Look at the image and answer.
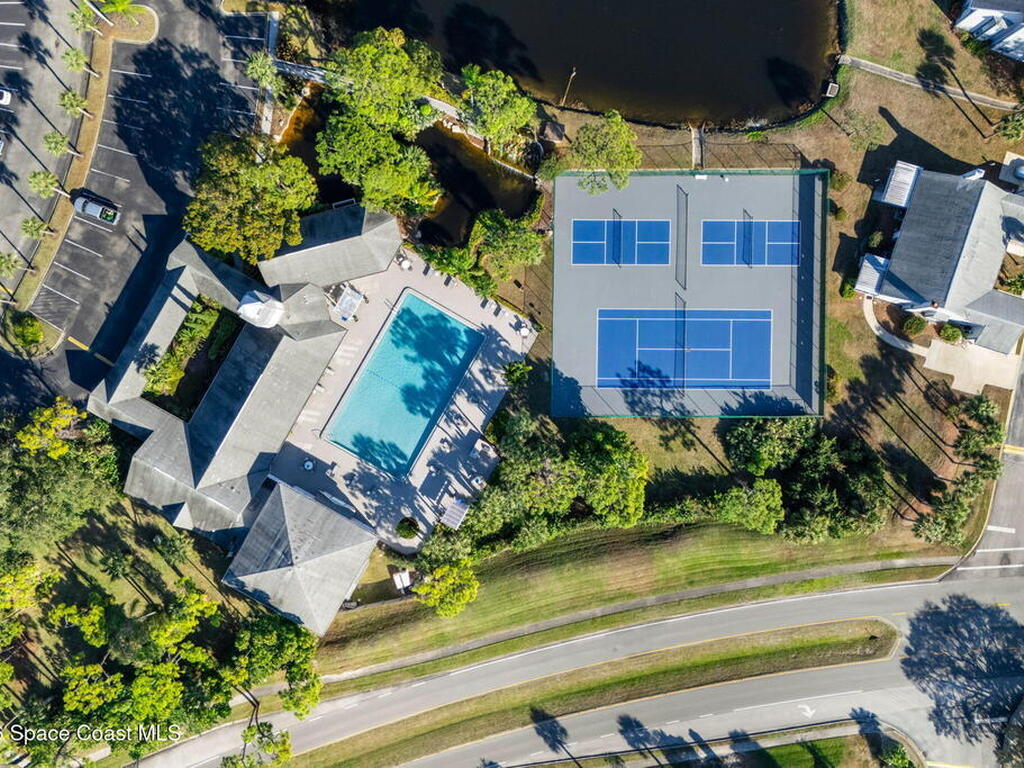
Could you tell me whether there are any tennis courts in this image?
Yes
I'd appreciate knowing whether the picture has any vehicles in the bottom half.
No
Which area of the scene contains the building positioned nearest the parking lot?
left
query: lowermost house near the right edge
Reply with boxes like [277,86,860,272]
[849,162,1024,355]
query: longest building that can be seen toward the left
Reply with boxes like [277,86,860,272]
[87,205,401,531]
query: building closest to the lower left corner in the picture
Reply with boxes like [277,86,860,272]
[222,477,380,636]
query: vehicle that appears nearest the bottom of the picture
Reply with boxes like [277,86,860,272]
[72,194,118,220]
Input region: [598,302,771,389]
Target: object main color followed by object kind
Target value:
blue tennis court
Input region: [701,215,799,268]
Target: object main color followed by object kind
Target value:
blue sports court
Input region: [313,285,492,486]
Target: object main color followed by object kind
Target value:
blue swimming pool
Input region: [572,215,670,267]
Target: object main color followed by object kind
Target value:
blue sports court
